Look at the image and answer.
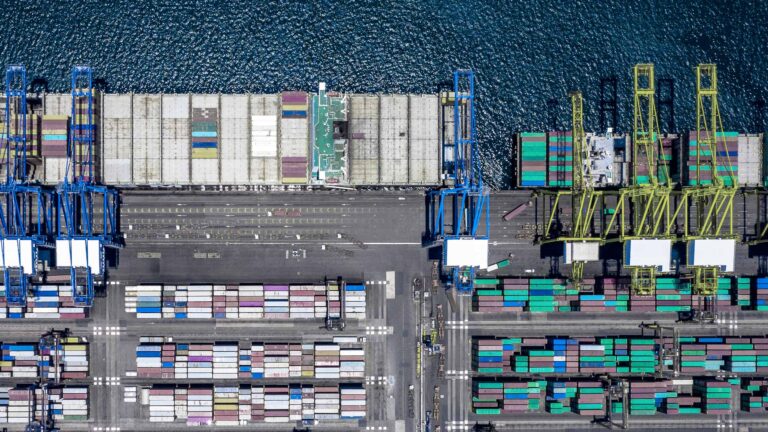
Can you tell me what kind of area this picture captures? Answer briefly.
port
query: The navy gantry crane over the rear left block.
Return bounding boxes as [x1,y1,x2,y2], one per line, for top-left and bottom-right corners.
[25,382,59,432]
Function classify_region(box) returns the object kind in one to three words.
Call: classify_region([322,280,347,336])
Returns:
crane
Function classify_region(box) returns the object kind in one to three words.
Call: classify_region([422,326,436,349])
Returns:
work vehicle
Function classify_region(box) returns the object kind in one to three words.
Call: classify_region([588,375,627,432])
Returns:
crane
